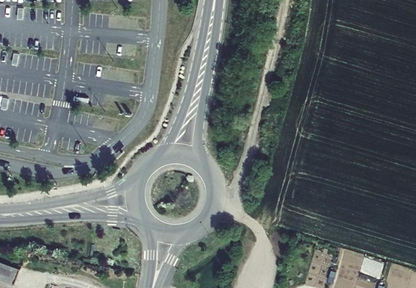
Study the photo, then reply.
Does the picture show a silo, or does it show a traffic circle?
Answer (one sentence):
This aerial view contains a traffic circle.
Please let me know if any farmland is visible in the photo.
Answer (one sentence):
Yes, farmland can be seen from above here.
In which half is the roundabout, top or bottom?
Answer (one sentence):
It is in the bottom half that the roundabout appears.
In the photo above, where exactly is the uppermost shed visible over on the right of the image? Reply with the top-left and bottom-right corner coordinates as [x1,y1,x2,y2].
[360,258,385,280]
